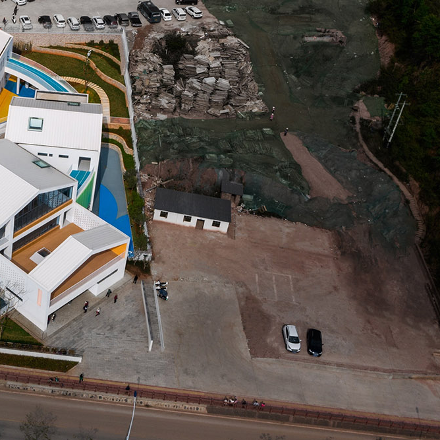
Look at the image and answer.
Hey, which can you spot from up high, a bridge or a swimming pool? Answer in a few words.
bridge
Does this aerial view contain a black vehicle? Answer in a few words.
Yes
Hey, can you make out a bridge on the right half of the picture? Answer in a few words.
No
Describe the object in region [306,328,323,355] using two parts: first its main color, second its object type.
black car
